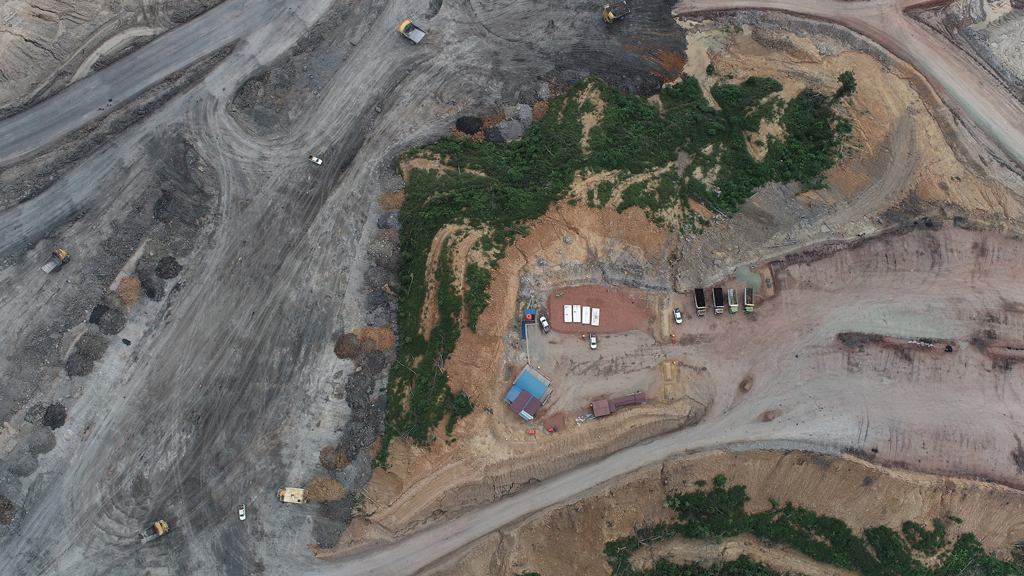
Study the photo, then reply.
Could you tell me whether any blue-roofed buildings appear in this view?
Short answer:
Yes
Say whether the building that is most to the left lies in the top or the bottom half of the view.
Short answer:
bottom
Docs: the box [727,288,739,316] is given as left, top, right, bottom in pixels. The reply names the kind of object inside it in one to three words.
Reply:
vehicle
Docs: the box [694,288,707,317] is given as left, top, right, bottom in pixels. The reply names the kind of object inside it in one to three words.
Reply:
vehicle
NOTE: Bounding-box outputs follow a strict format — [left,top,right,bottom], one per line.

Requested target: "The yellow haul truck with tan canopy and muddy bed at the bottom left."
[139,518,174,546]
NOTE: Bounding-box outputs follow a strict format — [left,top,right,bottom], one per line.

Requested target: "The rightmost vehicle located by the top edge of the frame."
[599,0,631,25]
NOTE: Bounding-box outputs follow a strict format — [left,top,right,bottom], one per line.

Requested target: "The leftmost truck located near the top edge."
[398,18,426,45]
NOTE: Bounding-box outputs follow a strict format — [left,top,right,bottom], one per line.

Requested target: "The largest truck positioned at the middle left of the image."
[40,249,73,276]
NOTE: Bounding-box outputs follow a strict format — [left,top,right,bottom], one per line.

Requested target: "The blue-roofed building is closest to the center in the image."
[505,364,552,421]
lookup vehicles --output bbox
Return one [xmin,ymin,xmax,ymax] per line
[238,503,246,521]
[742,287,755,315]
[139,518,174,546]
[590,333,597,350]
[599,0,631,25]
[40,249,73,276]
[727,288,739,316]
[694,288,707,317]
[539,316,550,333]
[673,308,682,324]
[308,154,323,165]
[277,487,309,505]
[712,288,724,316]
[398,18,426,45]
